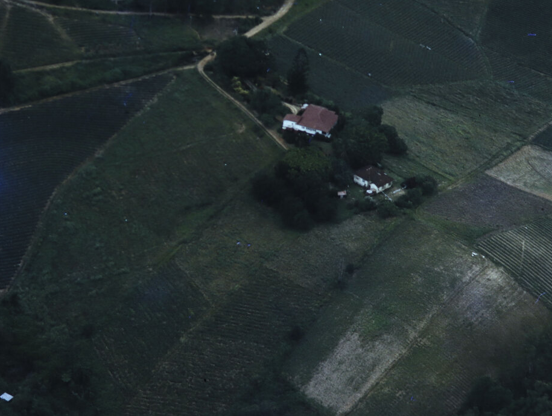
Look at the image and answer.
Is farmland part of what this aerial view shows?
Yes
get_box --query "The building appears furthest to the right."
[354,167,395,196]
